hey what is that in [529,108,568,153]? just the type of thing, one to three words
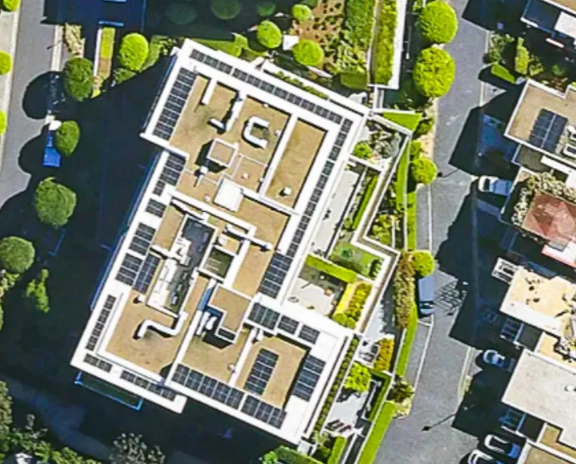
solar array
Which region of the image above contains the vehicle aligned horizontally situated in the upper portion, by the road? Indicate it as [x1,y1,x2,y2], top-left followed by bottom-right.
[477,176,513,194]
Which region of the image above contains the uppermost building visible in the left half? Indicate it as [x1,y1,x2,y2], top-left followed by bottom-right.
[71,40,371,445]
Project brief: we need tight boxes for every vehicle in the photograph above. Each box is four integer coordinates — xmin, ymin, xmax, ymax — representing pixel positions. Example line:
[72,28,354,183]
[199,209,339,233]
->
[470,453,505,464]
[43,120,63,168]
[485,435,521,456]
[477,176,513,194]
[476,348,512,368]
[417,276,436,315]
